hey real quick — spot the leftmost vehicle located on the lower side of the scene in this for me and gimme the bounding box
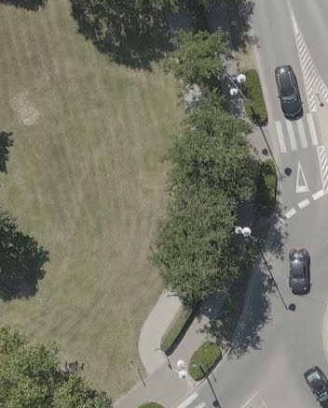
[287,247,312,295]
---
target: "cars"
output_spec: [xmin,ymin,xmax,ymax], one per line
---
[274,63,305,123]
[302,364,328,408]
[287,247,312,295]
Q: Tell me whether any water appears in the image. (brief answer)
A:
No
